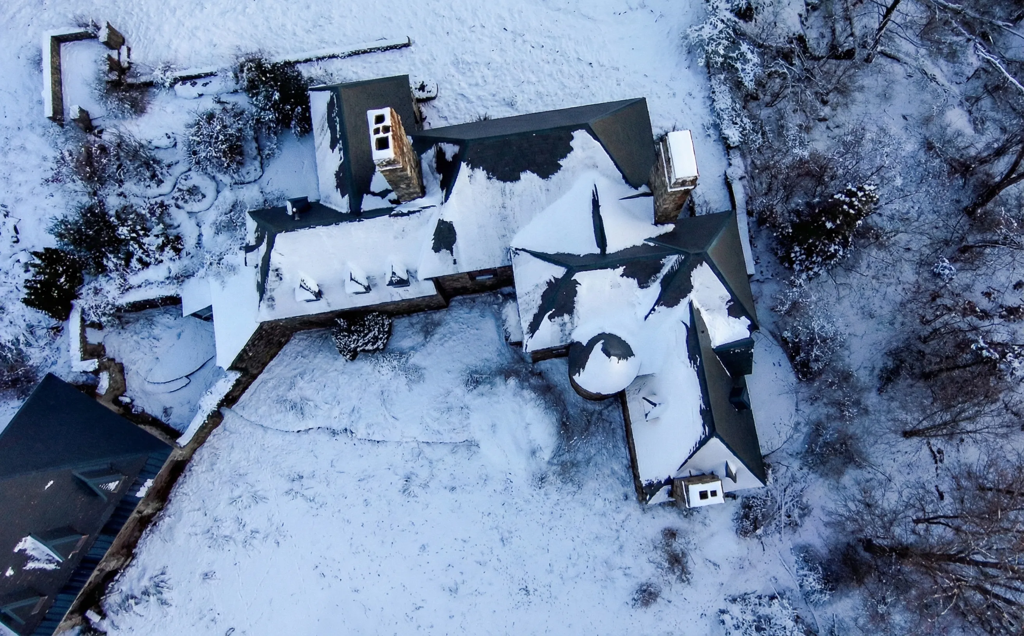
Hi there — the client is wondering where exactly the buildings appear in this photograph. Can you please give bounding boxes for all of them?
[0,373,198,636]
[181,72,767,509]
